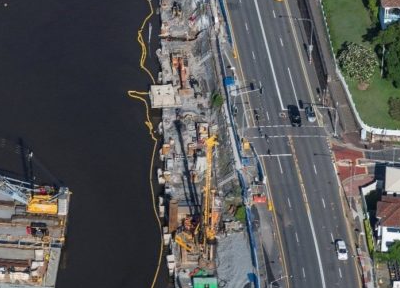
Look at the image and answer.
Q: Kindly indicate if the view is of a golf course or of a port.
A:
port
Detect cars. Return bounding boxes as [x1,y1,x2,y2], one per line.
[306,108,317,122]
[334,242,348,260]
[288,108,302,127]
